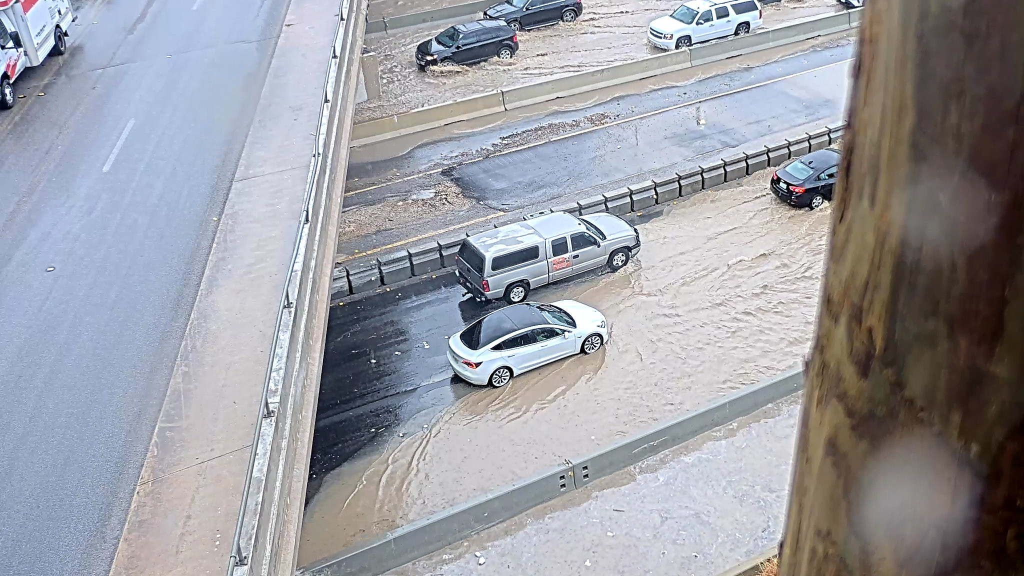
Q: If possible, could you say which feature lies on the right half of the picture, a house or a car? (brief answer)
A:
car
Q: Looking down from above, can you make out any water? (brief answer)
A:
Yes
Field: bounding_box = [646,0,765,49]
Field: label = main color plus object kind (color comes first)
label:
white car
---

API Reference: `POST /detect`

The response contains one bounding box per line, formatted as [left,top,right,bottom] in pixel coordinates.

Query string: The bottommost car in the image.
[445,292,611,388]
